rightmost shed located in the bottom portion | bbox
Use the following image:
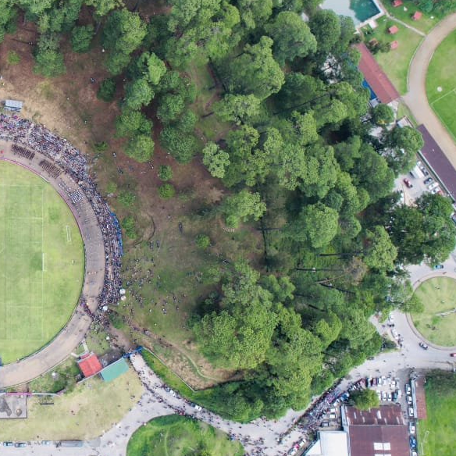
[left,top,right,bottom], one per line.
[410,376,427,417]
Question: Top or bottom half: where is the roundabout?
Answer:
bottom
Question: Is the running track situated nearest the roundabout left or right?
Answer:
right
